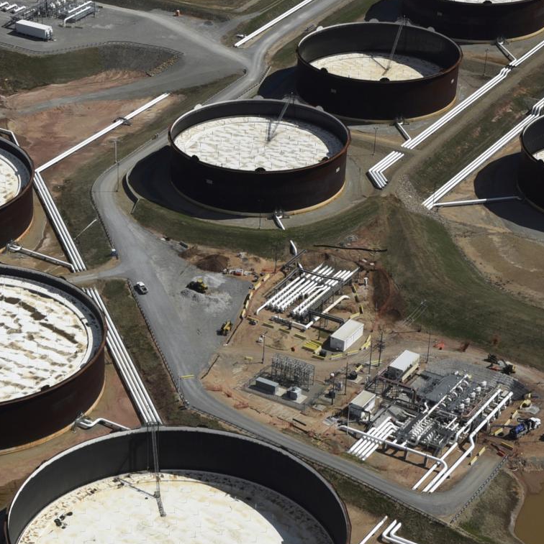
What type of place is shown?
industrial area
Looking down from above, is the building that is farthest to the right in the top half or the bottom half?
bottom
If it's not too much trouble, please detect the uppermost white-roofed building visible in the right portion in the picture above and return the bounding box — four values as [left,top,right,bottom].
[330,319,364,350]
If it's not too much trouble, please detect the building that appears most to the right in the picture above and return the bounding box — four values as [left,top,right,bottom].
[389,350,420,380]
